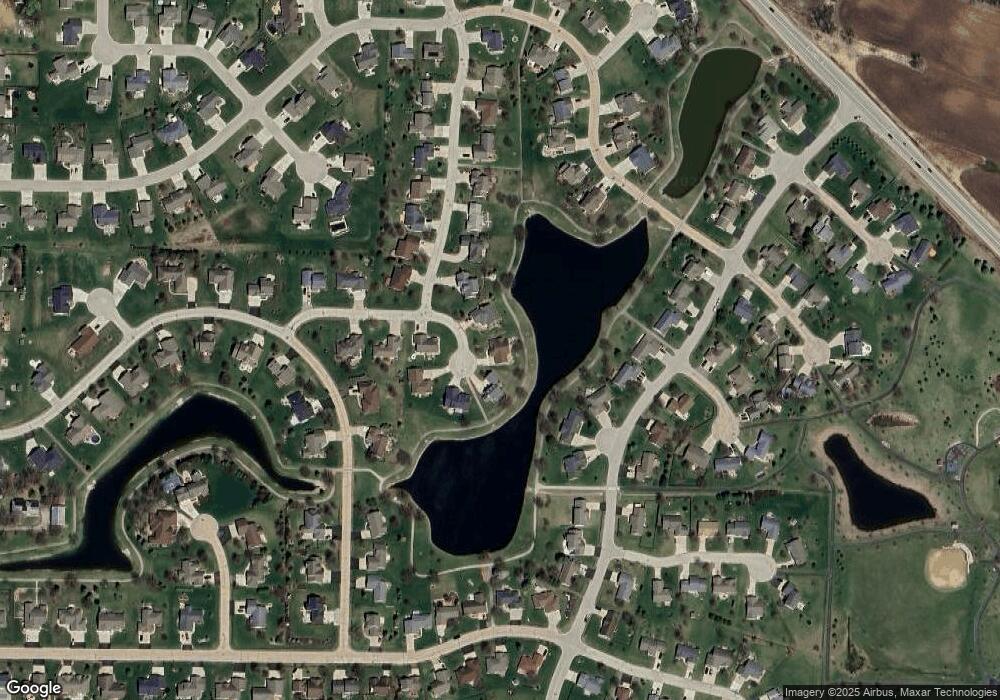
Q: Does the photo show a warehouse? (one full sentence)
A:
No, the picture doesn't show any warehouse.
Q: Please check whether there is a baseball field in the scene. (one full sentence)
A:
Yes, the picture does show a baseball field.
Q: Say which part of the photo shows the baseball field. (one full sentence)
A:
The baseball field is in the bottom right part of the image.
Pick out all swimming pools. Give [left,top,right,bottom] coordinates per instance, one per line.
[85,432,101,444]
[266,20,279,35]
[327,217,350,236]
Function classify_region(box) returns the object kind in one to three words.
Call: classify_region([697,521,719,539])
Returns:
house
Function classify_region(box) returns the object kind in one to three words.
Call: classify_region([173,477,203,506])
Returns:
house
